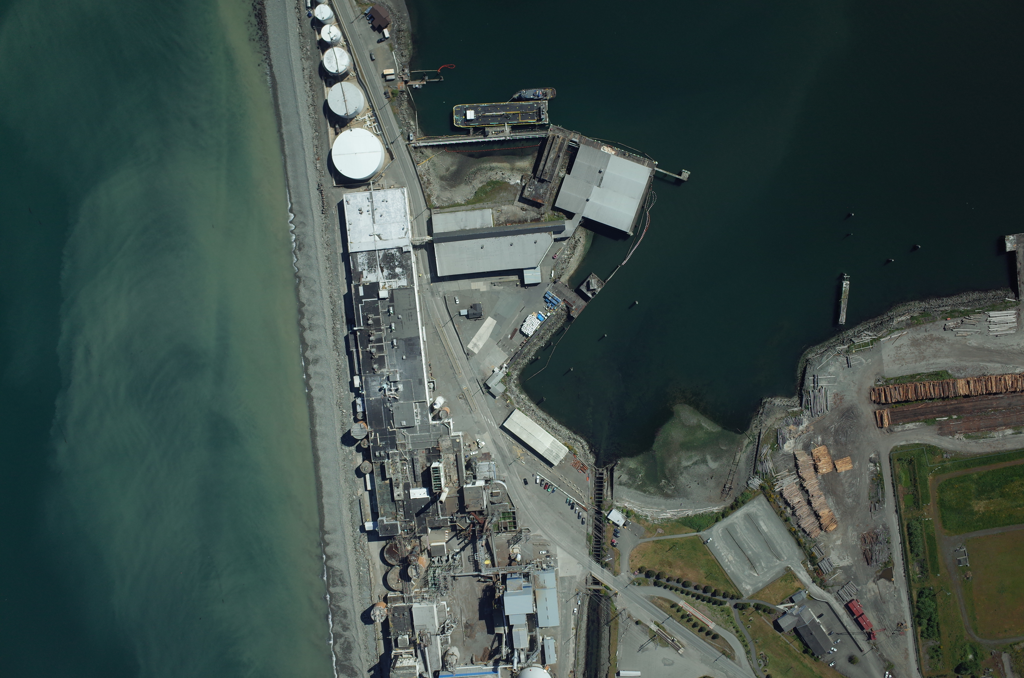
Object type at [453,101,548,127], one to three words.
ship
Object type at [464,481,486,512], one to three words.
building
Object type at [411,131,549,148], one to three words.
pier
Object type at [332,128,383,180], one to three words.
storage tank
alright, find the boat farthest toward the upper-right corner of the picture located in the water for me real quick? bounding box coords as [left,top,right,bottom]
[513,87,556,101]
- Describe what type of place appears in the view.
port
